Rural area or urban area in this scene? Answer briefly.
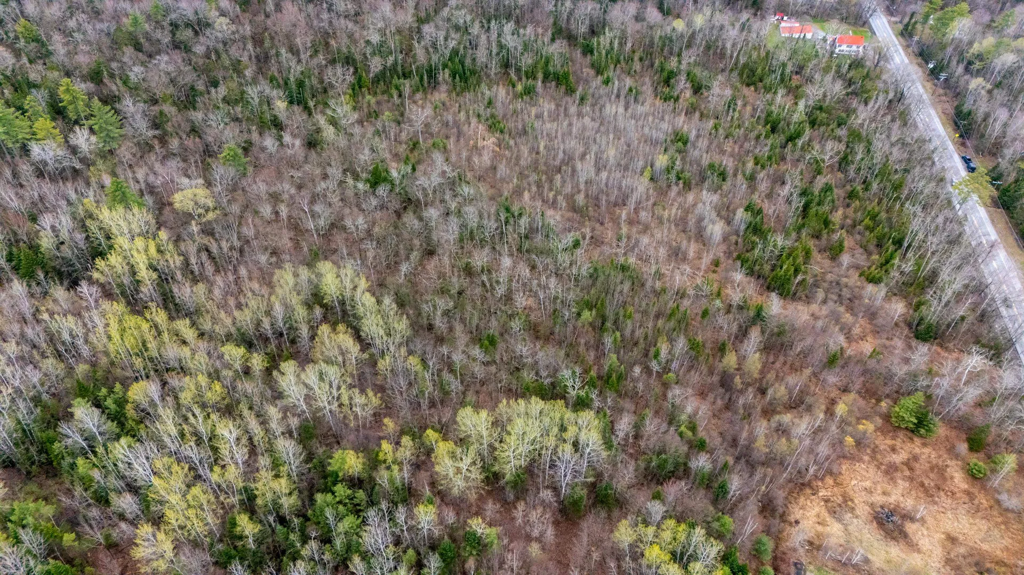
rural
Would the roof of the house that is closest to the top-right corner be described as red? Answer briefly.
Yes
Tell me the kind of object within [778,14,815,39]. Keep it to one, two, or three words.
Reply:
barn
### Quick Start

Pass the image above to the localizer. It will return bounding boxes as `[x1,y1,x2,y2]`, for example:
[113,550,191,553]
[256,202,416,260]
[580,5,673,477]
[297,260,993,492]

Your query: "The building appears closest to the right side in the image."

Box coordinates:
[824,32,869,55]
